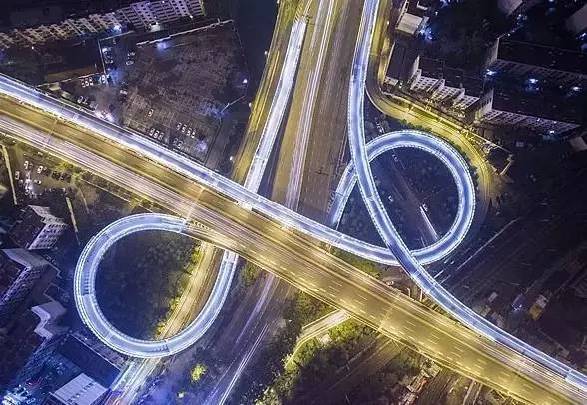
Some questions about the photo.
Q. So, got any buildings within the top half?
Yes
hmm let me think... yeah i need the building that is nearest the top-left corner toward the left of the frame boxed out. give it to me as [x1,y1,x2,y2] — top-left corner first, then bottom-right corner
[0,0,84,56]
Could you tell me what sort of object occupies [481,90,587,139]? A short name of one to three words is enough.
building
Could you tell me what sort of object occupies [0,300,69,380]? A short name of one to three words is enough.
building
